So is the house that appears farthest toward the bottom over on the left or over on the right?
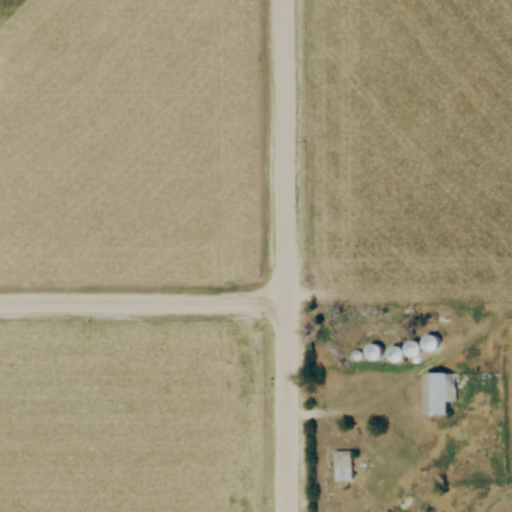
right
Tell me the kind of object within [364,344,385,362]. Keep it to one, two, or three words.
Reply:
silo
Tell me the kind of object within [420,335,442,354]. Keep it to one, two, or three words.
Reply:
silo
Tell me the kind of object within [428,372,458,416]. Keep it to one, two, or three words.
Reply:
barn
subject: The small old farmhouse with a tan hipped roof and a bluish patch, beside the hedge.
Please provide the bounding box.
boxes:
[334,451,355,484]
